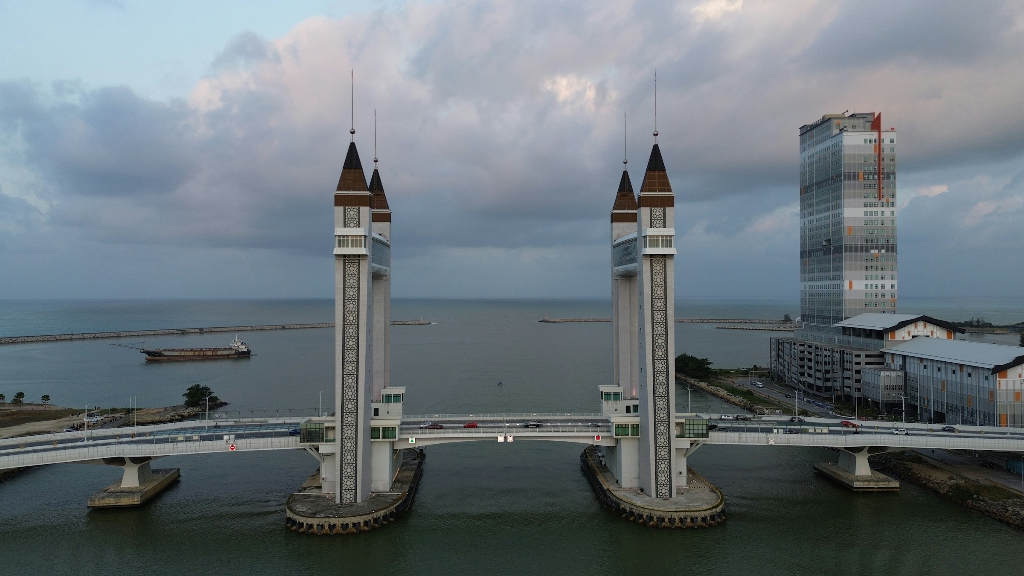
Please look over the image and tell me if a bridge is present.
Yes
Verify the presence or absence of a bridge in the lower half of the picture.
Yes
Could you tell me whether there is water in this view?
Yes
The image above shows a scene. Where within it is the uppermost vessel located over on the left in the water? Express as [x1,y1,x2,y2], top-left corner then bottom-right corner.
[101,336,258,361]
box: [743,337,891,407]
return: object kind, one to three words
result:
building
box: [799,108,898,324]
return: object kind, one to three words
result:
building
